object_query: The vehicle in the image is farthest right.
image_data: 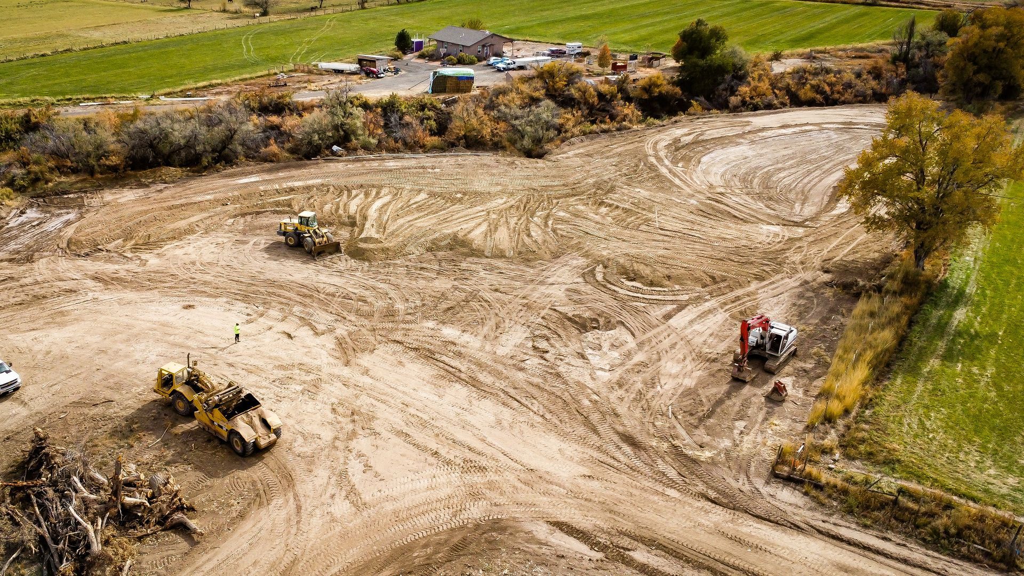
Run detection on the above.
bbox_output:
[731,315,807,379]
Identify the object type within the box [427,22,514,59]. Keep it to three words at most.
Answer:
house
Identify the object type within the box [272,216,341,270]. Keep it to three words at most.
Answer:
work vehicle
